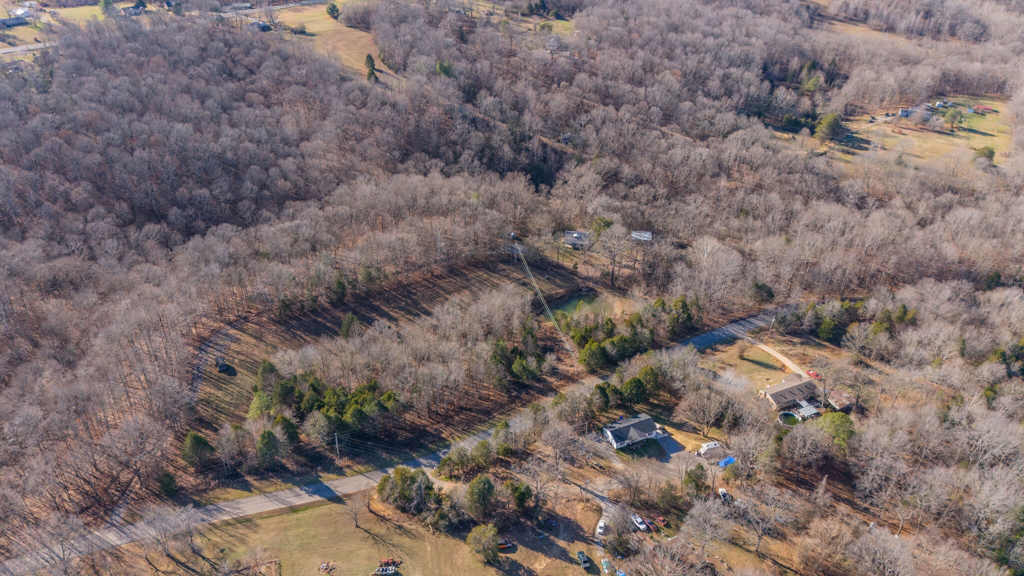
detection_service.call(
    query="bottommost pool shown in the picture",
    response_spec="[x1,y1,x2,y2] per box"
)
[779,412,802,431]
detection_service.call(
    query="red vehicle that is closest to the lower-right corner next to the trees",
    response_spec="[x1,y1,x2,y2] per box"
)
[804,368,825,382]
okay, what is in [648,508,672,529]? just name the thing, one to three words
truck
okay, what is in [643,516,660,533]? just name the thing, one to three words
car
